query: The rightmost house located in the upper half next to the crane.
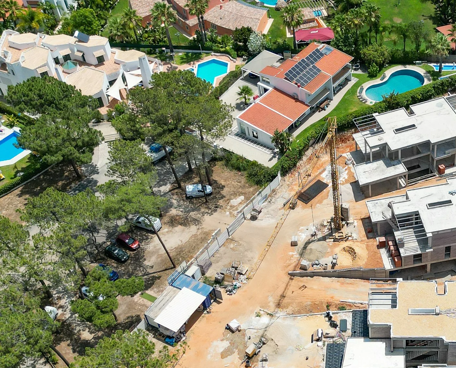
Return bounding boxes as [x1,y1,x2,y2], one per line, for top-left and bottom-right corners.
[348,95,456,199]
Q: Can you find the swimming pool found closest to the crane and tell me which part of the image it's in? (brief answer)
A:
top right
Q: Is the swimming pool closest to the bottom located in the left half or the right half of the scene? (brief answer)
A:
left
